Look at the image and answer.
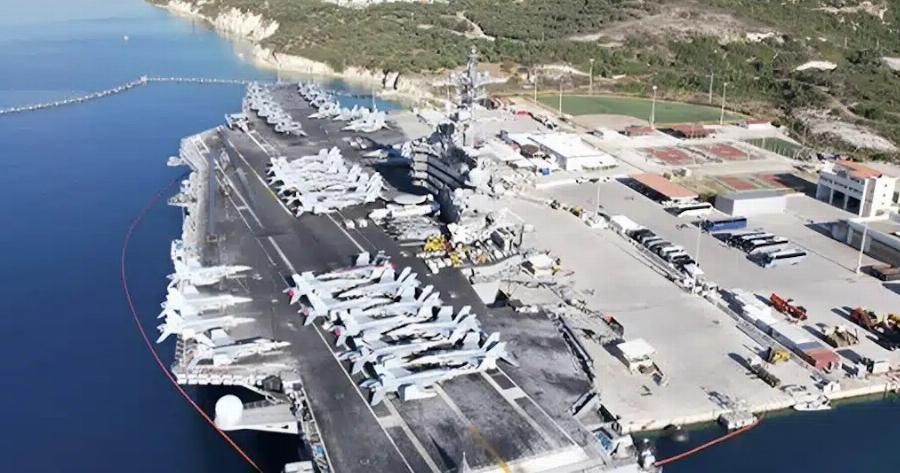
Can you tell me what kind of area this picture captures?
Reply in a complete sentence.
This looks like a port.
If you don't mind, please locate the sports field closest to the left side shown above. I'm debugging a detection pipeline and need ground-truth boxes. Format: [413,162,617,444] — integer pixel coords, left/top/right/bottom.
[521,91,745,131]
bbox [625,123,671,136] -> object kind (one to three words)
shed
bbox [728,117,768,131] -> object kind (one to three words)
shed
